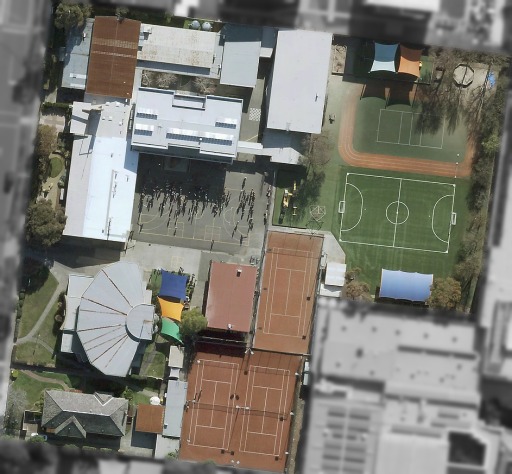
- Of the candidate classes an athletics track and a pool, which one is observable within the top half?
athletics track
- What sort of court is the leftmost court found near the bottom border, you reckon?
tennis court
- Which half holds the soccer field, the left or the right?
right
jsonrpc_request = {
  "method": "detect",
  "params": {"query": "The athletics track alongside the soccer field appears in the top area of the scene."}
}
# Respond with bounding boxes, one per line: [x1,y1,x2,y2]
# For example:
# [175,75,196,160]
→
[340,82,474,178]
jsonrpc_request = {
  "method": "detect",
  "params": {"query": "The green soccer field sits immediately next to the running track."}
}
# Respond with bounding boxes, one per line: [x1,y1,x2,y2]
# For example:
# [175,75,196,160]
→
[331,168,476,305]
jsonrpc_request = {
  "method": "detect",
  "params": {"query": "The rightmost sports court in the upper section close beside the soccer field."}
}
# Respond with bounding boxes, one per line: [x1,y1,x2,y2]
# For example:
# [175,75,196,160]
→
[352,80,466,162]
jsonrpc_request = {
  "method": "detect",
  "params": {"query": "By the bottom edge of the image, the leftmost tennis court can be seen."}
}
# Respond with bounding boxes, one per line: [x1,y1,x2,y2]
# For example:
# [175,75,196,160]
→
[177,344,249,470]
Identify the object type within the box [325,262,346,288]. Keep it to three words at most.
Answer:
shed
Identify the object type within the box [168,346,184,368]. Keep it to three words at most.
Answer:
shed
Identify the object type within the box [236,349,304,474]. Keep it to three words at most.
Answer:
tennis court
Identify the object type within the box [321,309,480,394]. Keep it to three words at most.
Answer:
building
